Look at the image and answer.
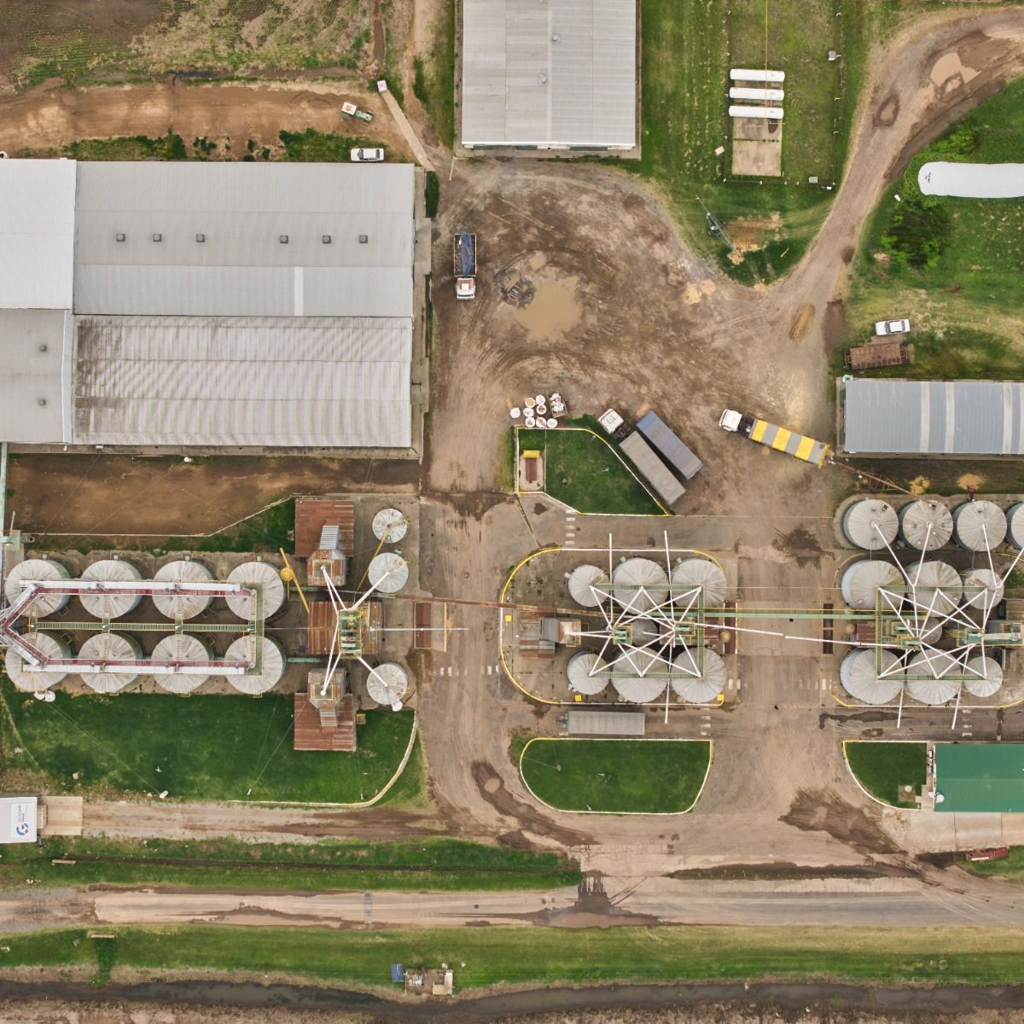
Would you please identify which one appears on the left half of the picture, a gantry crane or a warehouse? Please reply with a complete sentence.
Looking on the left half of the picture, you will find a warehouse.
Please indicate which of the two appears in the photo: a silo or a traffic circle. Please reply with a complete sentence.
Of the two, only a silo appears.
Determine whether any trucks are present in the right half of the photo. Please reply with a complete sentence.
Yes, I can see a truck in the right half of the photo.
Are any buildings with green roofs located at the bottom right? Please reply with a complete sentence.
Yes, looking at the bottom right, one can make out a building with a green roof.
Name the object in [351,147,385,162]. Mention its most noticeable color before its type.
white car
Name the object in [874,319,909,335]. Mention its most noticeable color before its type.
white car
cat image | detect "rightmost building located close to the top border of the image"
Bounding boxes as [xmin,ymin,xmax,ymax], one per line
[461,0,637,151]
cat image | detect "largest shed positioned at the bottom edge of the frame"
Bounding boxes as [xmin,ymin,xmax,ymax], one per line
[404,969,453,999]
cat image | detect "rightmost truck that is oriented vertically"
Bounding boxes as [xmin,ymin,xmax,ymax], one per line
[453,231,477,303]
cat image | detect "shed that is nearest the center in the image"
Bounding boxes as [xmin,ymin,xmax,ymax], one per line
[523,450,540,481]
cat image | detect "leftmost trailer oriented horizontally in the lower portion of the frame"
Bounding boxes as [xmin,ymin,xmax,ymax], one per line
[556,710,645,735]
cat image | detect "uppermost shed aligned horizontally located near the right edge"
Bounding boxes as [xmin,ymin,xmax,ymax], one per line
[840,380,1024,454]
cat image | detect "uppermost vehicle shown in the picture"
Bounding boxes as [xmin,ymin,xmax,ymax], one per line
[341,98,372,126]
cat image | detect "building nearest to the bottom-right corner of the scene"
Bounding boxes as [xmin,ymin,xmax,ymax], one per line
[933,742,1024,812]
